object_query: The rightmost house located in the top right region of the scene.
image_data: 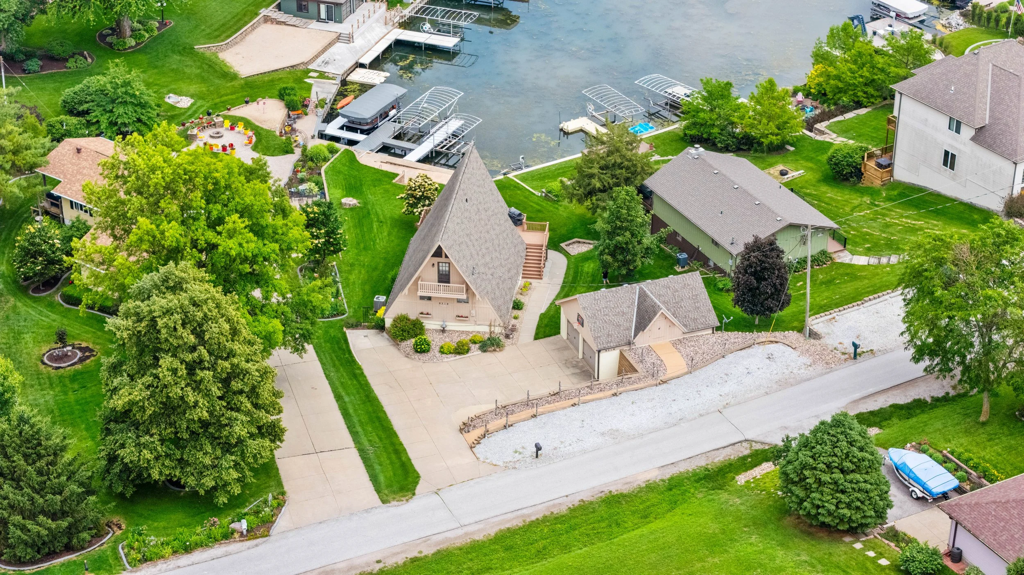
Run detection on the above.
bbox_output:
[887,28,1024,213]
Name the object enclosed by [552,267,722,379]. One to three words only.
building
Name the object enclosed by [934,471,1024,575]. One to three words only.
house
